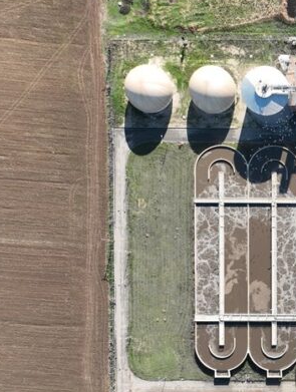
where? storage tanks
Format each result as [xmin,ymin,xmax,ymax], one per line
[122,63,182,114]
[187,64,240,114]
[239,67,296,128]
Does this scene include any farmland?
Yes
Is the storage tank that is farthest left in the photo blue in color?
No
